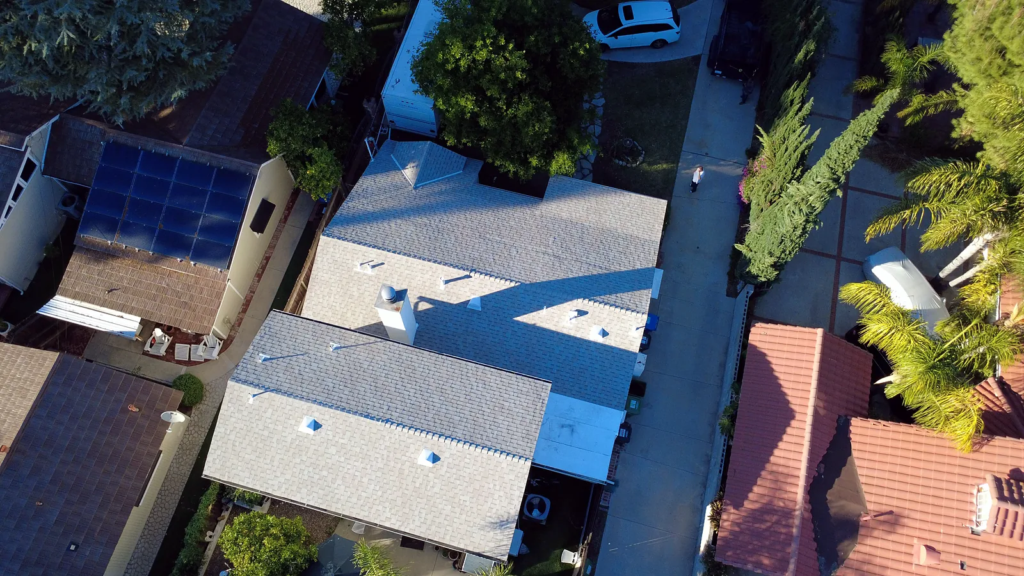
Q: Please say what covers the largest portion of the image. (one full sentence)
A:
For the most part, this view shows buildings.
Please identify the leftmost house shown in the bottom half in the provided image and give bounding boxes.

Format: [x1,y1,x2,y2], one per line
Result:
[0,340,192,576]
